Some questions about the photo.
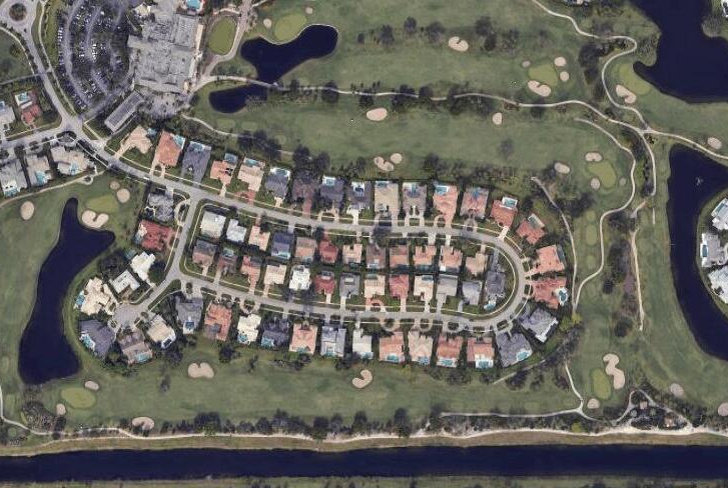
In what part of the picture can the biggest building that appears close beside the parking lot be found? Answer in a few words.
top left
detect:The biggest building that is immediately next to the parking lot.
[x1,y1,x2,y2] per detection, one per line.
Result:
[128,3,199,95]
